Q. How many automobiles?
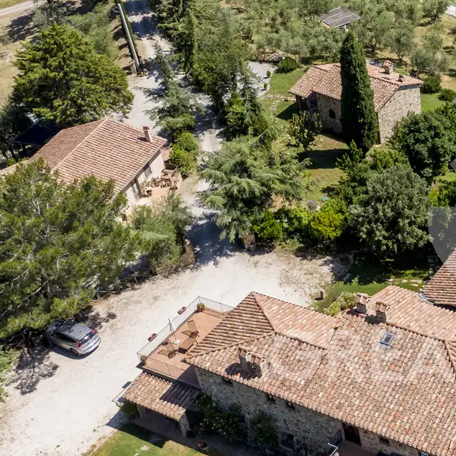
1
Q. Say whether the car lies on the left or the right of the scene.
left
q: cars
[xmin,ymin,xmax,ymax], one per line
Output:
[36,312,103,350]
